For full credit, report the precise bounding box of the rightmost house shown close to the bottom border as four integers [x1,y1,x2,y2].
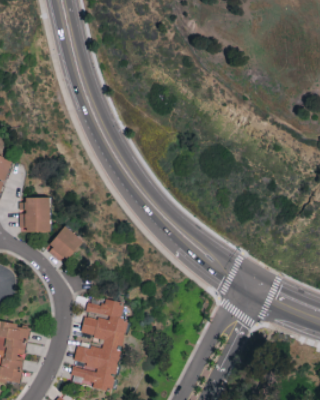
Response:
[70,300,128,392]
